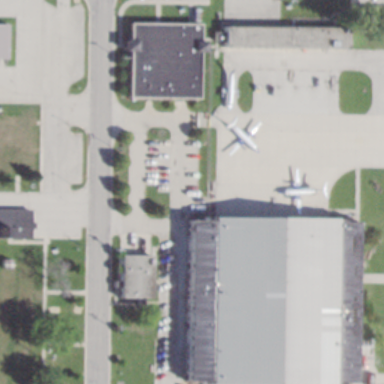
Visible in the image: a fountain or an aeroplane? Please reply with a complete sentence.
This aerial view contains an aeroplane.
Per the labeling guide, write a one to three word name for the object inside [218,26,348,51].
building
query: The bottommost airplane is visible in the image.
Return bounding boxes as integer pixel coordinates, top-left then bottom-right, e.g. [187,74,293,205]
[283,170,329,212]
